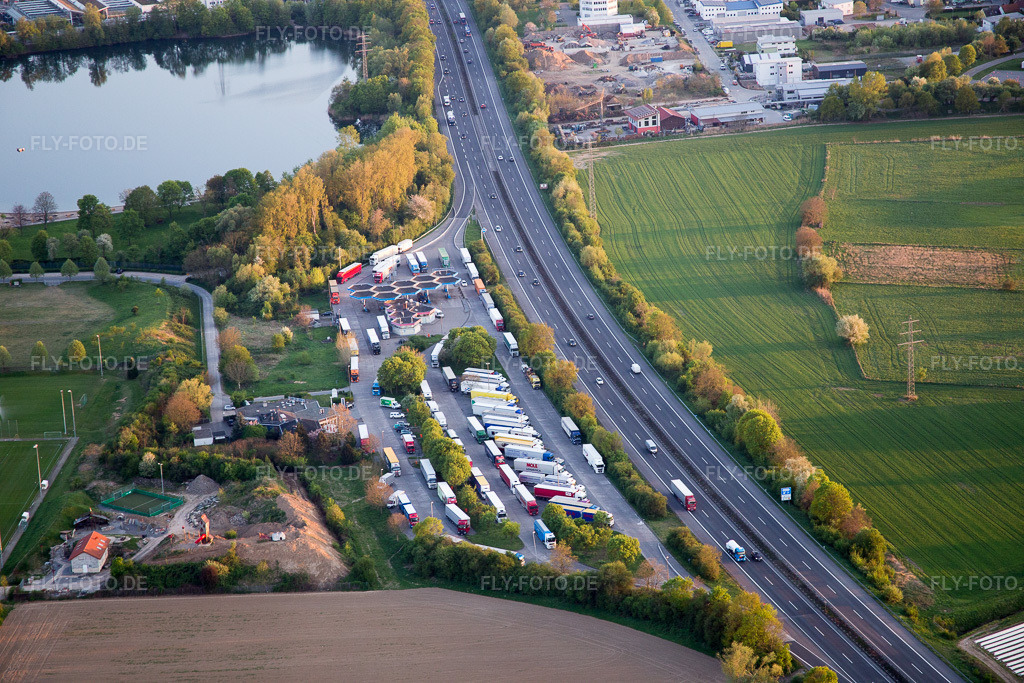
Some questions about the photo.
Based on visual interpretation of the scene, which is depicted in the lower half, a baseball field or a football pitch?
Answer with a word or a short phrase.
football pitch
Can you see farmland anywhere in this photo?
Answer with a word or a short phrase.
Yes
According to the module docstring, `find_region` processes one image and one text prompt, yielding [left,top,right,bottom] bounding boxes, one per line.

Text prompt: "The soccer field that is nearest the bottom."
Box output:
[0,441,66,548]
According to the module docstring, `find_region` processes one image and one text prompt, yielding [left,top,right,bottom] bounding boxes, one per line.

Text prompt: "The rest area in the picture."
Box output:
[327,176,860,683]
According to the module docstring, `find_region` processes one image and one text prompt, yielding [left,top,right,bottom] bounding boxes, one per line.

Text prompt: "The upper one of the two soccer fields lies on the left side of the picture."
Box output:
[0,372,104,437]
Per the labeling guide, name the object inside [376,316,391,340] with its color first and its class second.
white vehicle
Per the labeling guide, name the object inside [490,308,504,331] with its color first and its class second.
white vehicle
